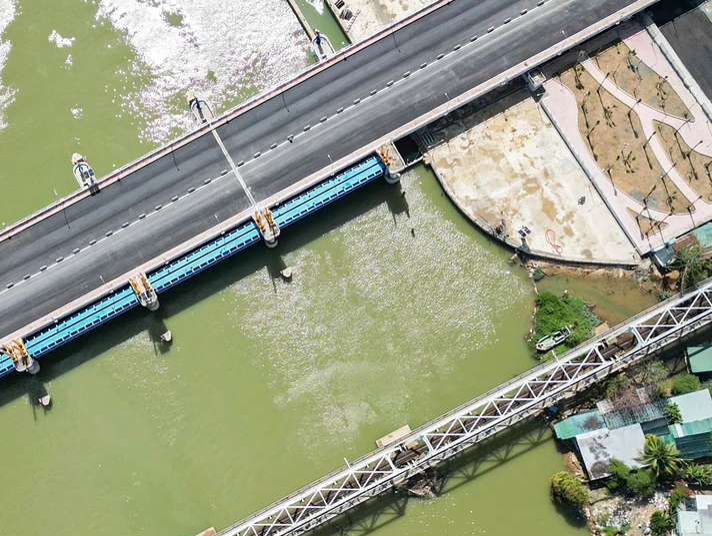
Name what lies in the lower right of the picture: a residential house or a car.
residential house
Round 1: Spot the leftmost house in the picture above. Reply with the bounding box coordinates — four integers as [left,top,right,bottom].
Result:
[554,409,607,440]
